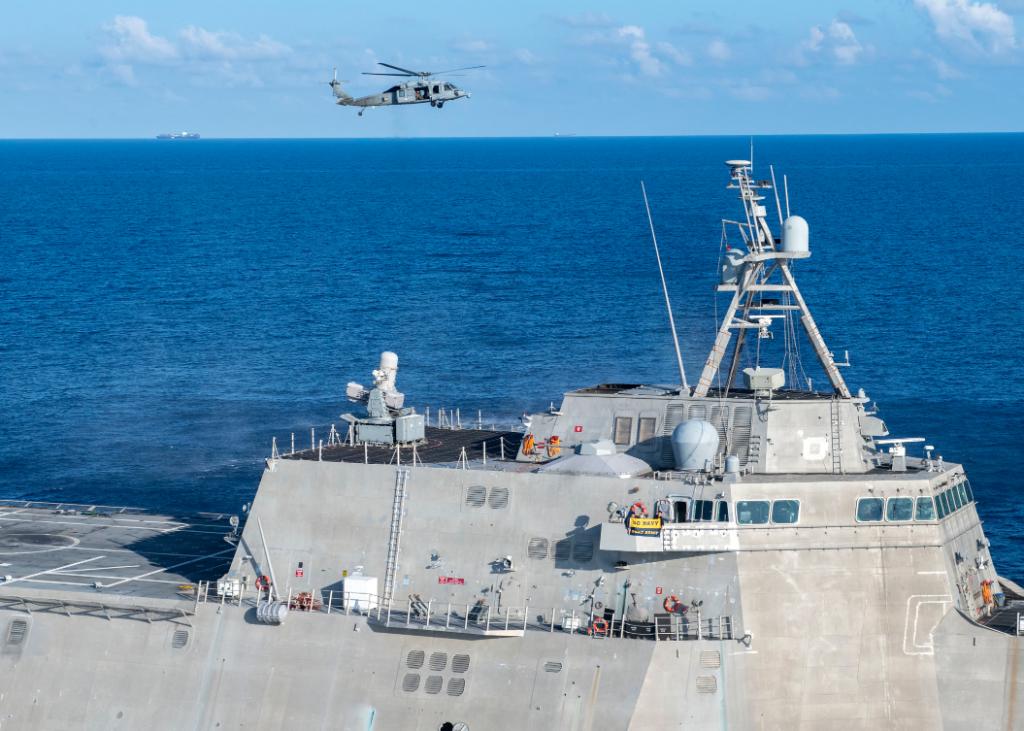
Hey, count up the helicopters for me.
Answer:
1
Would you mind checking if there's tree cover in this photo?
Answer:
No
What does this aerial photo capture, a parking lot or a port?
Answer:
port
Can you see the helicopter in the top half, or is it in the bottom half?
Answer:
top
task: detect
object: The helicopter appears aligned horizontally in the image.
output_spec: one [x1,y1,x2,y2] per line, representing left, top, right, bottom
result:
[318,65,487,117]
